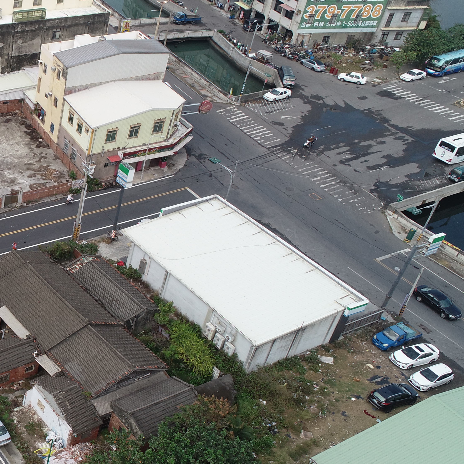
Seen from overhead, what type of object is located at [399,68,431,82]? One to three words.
car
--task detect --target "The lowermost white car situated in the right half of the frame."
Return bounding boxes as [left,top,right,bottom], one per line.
[407,363,460,392]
